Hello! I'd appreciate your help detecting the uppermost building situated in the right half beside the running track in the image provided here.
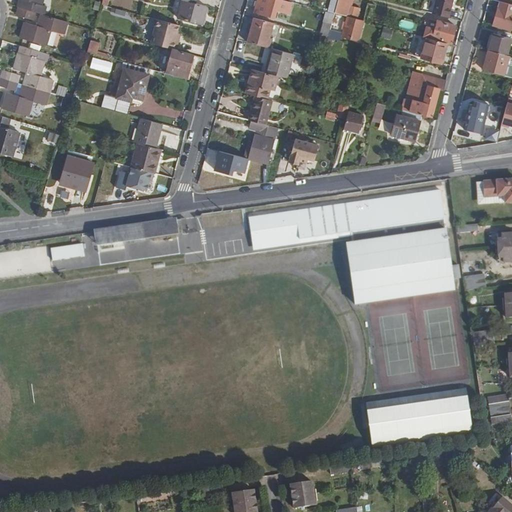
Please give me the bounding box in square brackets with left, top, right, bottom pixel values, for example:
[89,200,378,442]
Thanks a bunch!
[249,190,444,249]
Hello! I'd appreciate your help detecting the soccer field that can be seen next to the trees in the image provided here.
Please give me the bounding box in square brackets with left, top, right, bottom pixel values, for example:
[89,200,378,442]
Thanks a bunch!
[0,273,348,474]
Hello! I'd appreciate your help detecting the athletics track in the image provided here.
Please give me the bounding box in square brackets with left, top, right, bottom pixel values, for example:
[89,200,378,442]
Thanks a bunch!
[0,244,366,489]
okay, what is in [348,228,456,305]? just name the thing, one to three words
building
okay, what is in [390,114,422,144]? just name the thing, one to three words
house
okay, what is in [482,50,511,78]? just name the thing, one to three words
house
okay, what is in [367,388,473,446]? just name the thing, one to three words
building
